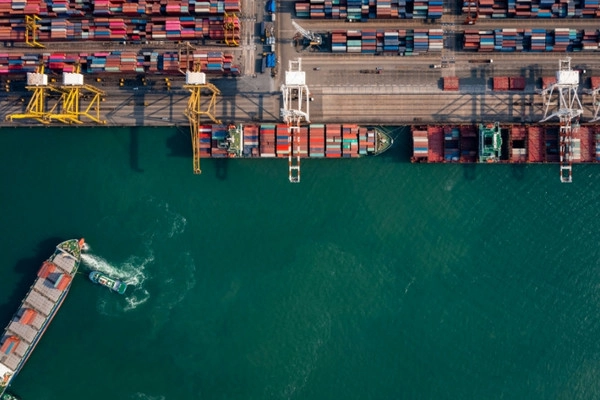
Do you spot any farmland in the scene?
No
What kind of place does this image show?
port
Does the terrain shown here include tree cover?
No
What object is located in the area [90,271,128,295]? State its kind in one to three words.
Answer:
boat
